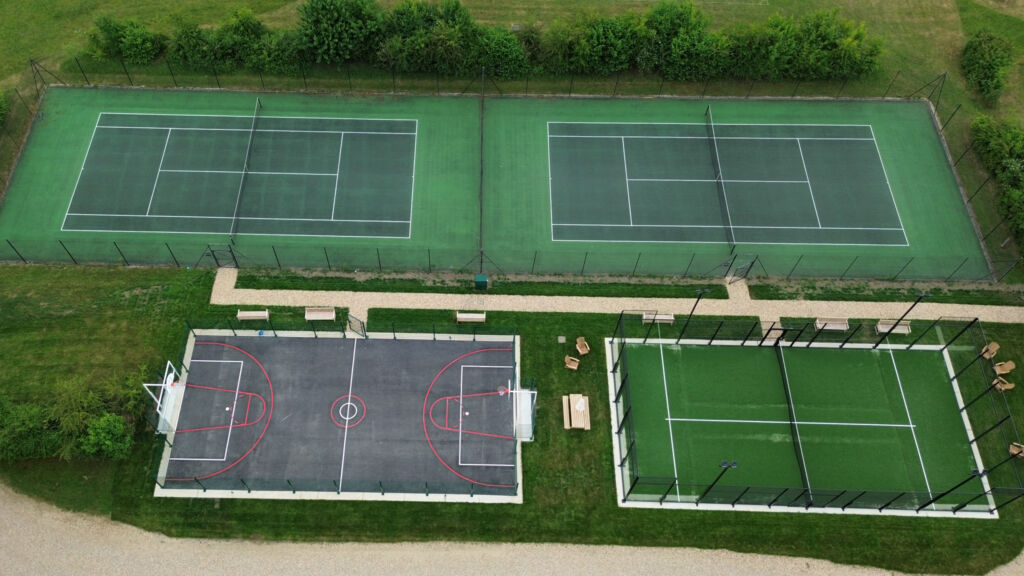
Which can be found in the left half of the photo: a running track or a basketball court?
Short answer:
basketball court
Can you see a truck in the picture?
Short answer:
No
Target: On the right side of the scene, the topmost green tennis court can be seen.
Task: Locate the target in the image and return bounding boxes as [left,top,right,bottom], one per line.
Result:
[482,94,998,281]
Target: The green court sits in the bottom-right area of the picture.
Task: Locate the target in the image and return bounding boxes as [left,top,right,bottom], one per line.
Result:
[607,337,1000,519]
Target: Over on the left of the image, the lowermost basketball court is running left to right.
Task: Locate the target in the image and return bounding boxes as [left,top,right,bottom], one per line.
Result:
[153,329,538,505]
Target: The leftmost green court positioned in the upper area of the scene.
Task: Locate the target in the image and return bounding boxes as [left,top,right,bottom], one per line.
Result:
[0,86,482,272]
